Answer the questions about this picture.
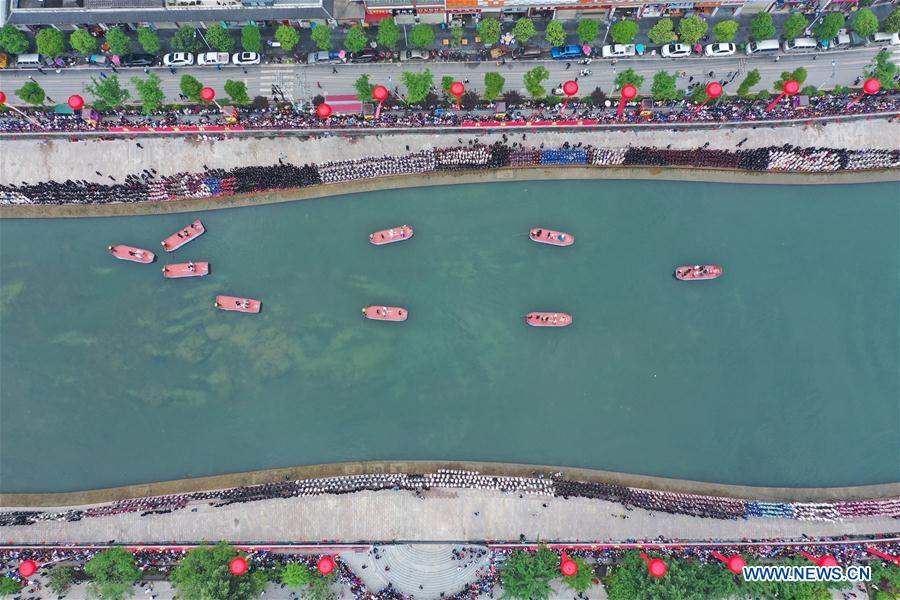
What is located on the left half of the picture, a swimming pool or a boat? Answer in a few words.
boat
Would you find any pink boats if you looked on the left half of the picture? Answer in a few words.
Yes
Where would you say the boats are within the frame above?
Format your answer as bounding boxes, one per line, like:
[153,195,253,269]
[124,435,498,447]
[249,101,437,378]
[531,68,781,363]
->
[214,295,264,314]
[160,220,207,251]
[363,306,410,322]
[368,226,414,244]
[163,262,211,278]
[674,264,723,279]
[526,312,573,328]
[110,246,158,264]
[528,228,576,246]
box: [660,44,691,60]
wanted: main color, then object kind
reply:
white car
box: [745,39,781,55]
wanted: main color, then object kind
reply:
white vehicle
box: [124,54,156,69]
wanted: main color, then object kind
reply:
black car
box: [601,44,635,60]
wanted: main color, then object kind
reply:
white vehicle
